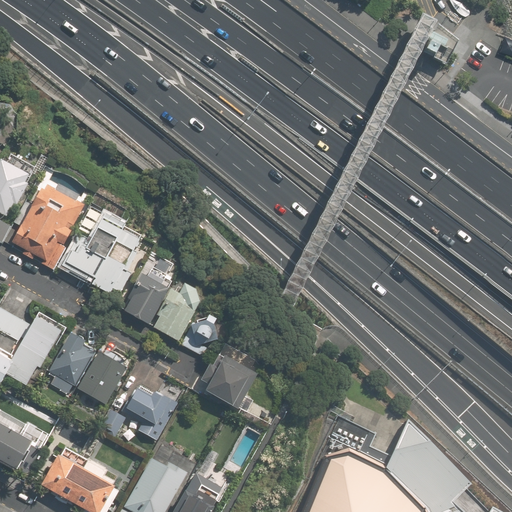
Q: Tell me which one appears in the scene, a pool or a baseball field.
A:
pool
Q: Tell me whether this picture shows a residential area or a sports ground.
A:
residential area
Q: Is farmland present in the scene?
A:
No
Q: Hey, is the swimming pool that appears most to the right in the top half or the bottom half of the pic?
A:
bottom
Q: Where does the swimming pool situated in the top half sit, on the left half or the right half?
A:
left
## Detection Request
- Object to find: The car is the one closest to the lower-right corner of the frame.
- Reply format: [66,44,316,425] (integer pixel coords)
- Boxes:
[449,348,464,361]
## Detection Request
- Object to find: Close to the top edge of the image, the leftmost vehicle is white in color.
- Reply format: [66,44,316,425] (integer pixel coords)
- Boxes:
[62,20,80,34]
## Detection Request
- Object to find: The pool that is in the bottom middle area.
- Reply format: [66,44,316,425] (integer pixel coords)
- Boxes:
[224,426,262,470]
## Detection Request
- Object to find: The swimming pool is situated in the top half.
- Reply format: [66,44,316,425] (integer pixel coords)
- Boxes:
[50,170,86,196]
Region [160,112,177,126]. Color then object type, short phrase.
blue vehicle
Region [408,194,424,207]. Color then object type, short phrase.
white vehicle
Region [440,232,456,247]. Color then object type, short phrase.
gray vehicle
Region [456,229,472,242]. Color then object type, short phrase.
white vehicle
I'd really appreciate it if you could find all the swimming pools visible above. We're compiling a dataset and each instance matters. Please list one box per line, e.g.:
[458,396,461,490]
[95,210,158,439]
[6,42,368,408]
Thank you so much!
[224,426,262,470]
[50,170,86,196]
